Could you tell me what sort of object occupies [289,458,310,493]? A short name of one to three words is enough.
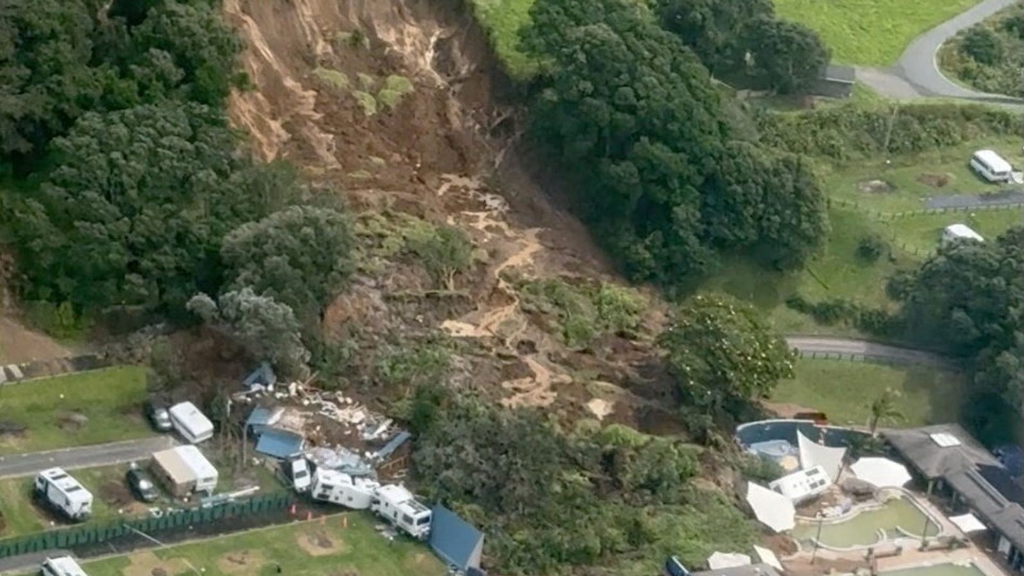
car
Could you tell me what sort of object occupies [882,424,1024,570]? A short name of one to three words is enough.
building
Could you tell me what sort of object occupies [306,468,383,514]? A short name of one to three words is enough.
camper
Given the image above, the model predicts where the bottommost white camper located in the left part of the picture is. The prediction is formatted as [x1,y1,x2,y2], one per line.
[44,552,88,576]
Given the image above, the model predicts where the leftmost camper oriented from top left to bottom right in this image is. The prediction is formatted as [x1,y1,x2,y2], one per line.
[39,470,92,527]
